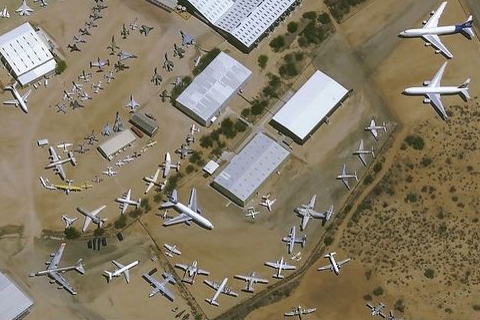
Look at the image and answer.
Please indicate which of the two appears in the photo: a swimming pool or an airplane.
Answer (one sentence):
I can see an airplane in this picture.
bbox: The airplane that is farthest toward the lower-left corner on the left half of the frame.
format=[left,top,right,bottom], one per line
[29,239,87,299]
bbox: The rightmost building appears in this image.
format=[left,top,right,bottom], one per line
[272,70,348,143]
